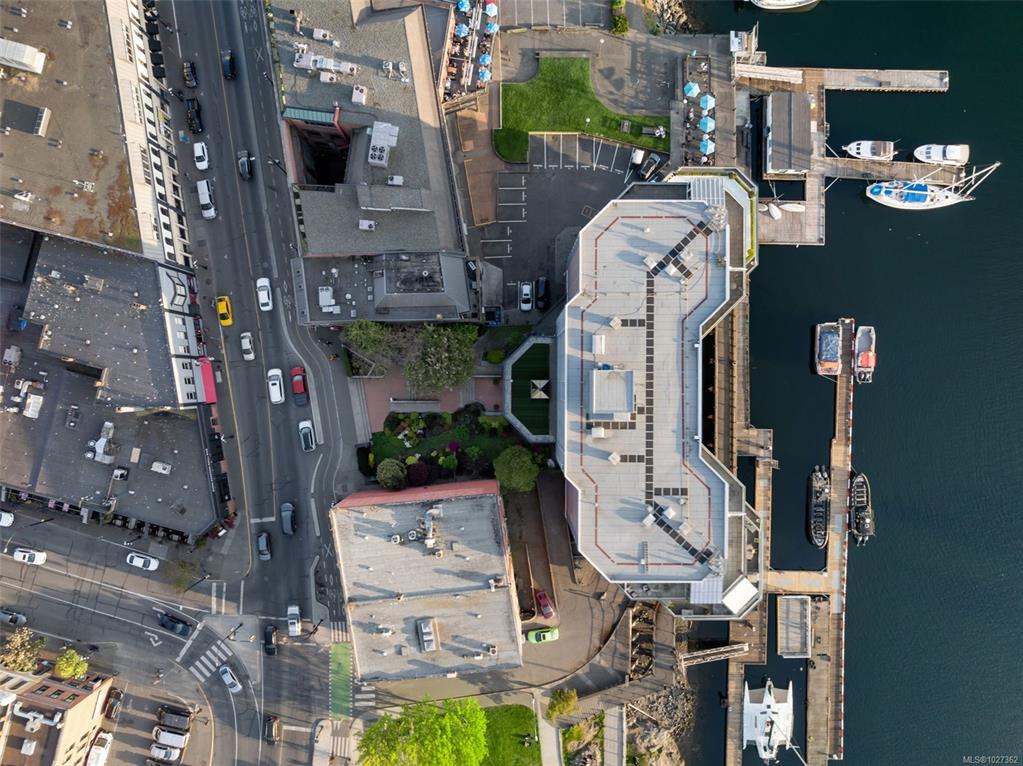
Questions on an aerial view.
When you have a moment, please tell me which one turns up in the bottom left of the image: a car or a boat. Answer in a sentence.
There is a car in the bottom left of the image.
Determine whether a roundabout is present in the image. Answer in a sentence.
No, I can see no roundabout in this picture.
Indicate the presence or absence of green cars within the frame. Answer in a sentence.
Yes, I can see a green car in this picture.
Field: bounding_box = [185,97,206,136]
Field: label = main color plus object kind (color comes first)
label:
black vehicle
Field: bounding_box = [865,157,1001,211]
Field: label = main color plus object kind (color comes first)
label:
white boat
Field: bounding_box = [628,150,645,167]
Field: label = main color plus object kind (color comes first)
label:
white car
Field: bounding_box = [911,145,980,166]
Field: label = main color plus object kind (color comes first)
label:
white boat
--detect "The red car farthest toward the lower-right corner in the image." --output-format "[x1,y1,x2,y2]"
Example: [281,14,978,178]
[535,588,554,619]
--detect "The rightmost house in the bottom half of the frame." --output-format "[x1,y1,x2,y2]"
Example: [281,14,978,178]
[775,594,810,659]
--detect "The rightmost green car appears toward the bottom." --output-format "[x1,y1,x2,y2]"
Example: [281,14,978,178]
[525,625,559,642]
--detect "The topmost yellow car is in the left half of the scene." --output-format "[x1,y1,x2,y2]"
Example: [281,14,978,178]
[217,295,235,328]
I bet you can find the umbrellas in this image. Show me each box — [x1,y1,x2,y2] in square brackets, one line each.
[683,82,699,99]
[699,140,713,155]
[458,0,469,16]
[480,54,491,69]
[699,95,713,111]
[699,118,713,133]
[487,22,499,39]
[486,5,498,21]
[456,25,469,42]
[480,70,491,85]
